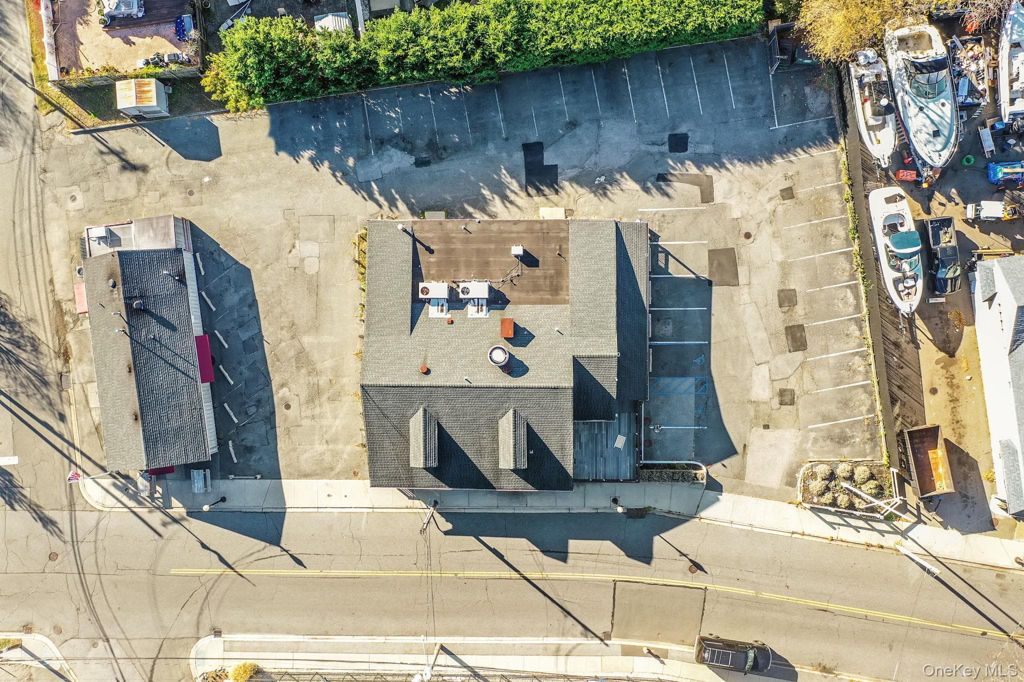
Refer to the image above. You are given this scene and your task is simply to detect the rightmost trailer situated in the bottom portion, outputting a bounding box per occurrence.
[896,423,954,513]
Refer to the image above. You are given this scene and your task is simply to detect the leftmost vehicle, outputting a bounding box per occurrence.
[691,634,772,674]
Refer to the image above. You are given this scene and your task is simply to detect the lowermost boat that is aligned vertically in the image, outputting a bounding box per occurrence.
[868,187,925,330]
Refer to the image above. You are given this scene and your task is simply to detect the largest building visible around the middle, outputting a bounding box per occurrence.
[360,218,651,492]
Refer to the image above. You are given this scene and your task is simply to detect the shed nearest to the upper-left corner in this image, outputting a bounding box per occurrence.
[116,78,170,118]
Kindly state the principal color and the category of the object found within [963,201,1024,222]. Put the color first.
white work vehicle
